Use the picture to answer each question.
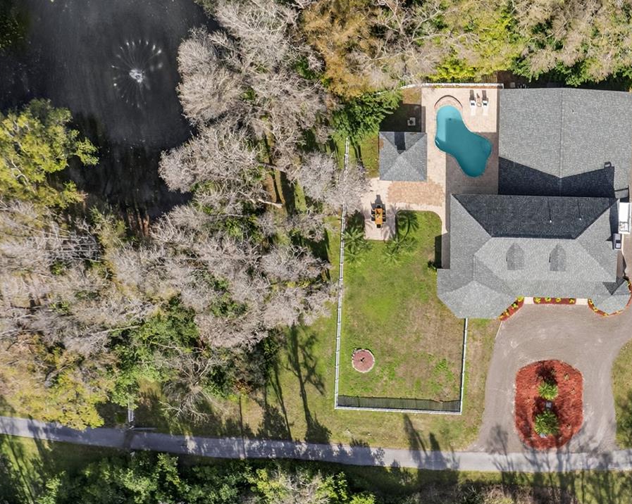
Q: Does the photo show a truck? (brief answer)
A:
No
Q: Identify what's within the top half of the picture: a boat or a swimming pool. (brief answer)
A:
swimming pool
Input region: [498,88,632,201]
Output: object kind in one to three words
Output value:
building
